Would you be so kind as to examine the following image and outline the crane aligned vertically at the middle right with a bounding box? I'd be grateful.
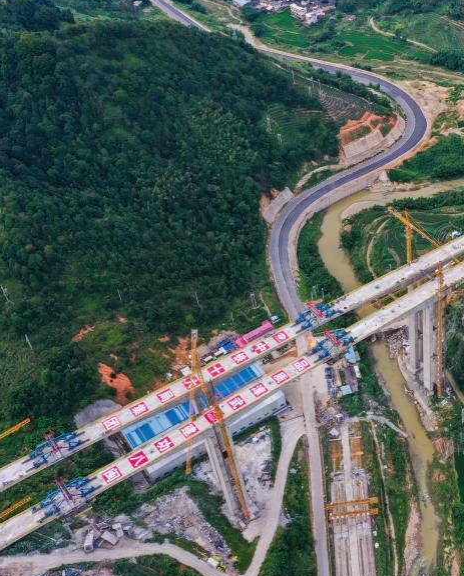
[433,265,445,398]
